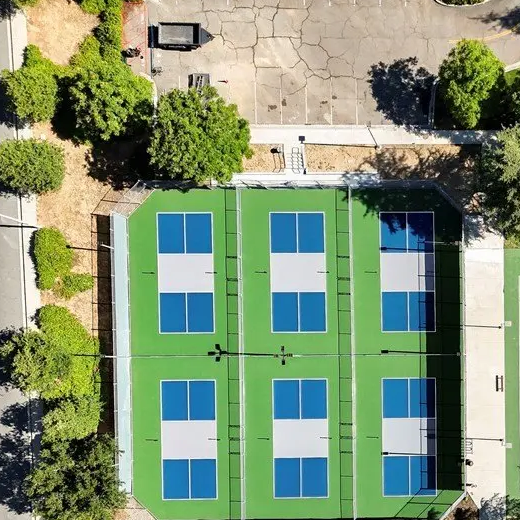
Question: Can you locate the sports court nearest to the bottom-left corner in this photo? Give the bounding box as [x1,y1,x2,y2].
[130,354,244,520]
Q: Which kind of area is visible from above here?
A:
sports ground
